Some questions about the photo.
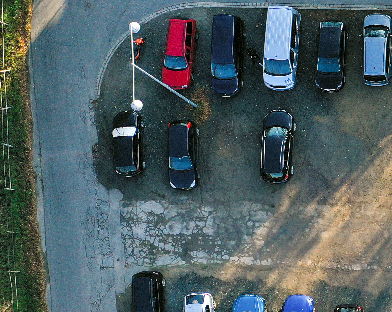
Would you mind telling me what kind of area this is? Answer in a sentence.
This looks like a parking lot.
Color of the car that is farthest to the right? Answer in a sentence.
The color of the car that is farthest to the right is blue.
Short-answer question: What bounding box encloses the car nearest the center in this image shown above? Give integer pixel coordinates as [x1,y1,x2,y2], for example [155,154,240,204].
[162,117,202,192]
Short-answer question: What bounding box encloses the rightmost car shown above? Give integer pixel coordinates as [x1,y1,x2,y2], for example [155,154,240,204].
[357,12,392,89]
